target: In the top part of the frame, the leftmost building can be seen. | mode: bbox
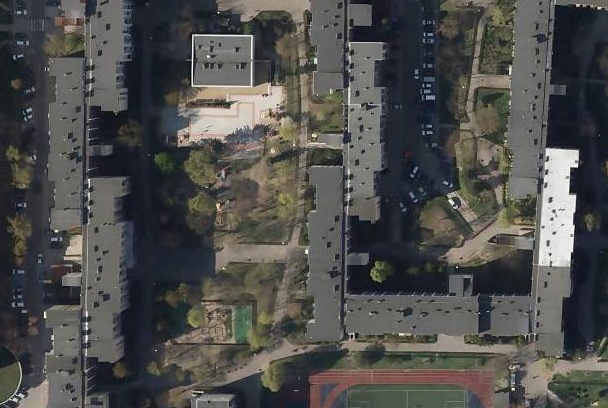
[48,57,84,232]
